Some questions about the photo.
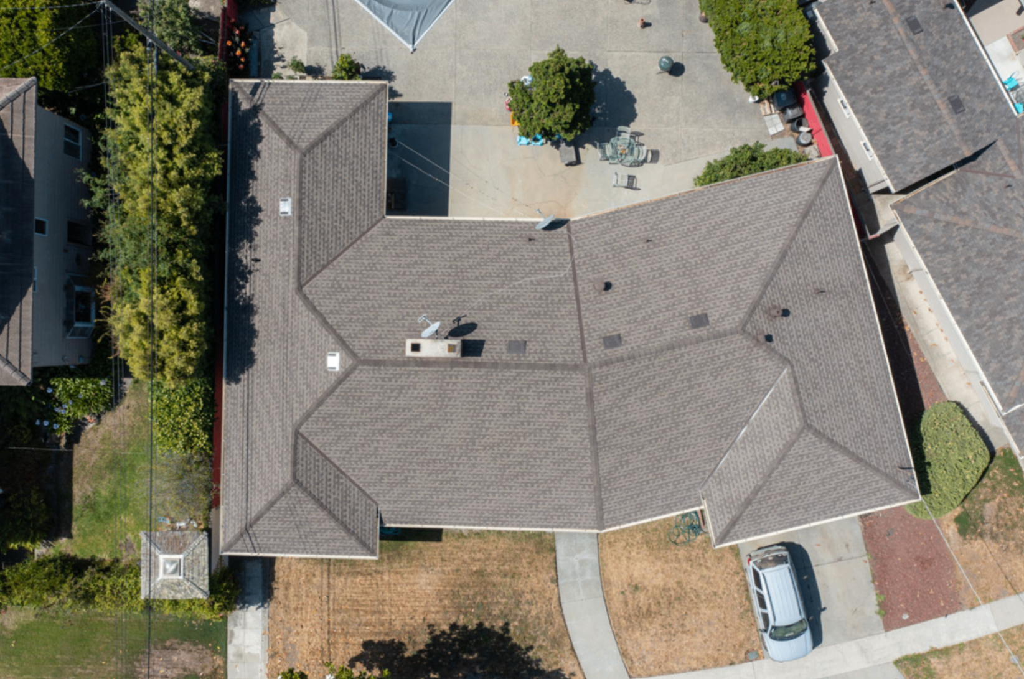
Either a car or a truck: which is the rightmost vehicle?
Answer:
car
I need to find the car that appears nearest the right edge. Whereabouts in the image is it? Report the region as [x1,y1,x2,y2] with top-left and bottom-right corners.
[741,540,812,665]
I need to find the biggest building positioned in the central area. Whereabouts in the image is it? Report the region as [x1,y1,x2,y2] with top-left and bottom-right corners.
[221,80,920,558]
